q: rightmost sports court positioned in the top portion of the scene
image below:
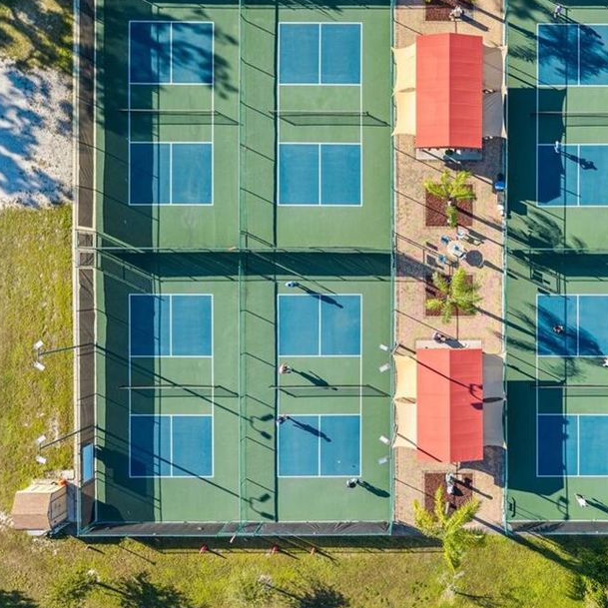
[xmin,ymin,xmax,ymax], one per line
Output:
[537,22,608,205]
